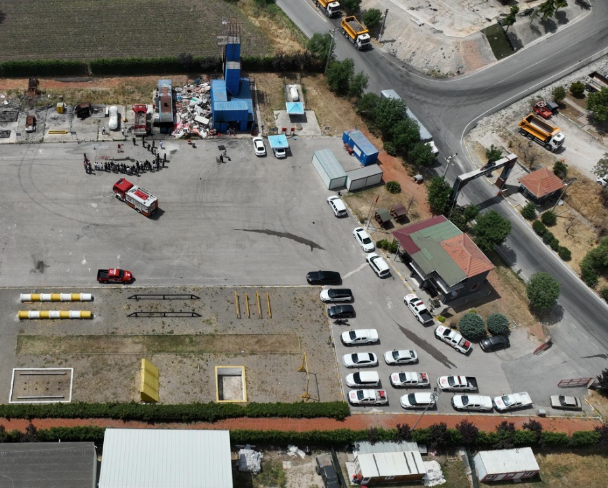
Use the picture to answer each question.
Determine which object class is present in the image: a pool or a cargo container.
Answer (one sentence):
I can see a cargo container in this picture.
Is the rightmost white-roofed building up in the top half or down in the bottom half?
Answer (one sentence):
The rightmost white-roofed building sits in the bottom half of the picture.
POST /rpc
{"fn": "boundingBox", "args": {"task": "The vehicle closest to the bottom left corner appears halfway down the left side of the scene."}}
[98,269,134,285]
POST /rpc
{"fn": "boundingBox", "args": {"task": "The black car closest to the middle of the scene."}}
[308,270,341,287]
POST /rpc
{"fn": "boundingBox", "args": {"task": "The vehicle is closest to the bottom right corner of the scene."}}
[546,397,583,411]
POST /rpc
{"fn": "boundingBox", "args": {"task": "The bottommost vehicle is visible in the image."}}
[313,453,341,488]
